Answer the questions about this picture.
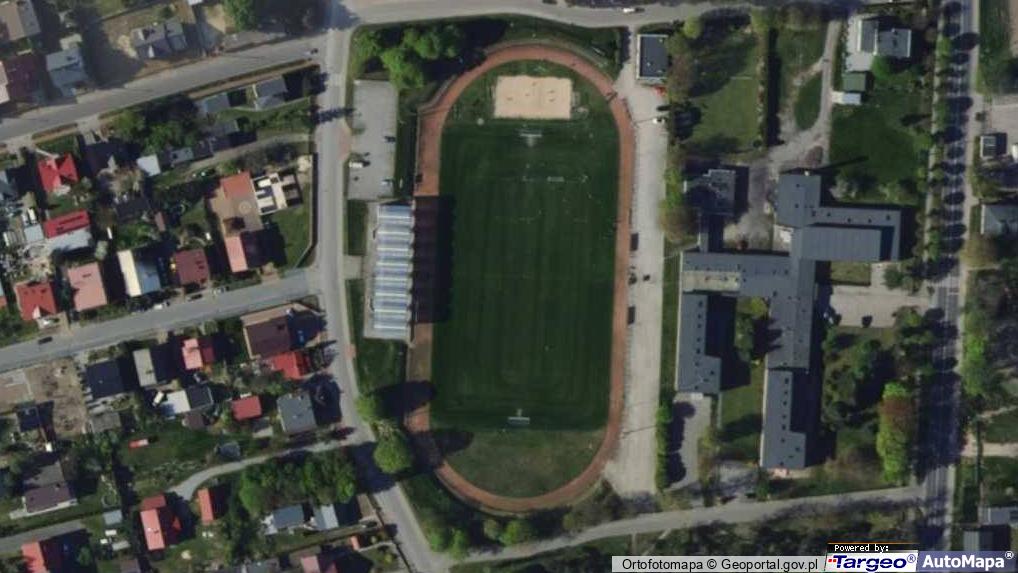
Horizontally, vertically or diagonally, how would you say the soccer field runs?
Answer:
vertically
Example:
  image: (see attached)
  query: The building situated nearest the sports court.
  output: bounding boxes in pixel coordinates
[636,34,669,81]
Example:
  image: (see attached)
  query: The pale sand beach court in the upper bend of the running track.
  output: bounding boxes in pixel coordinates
[494,75,572,118]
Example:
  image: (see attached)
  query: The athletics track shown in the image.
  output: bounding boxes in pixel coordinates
[404,44,634,511]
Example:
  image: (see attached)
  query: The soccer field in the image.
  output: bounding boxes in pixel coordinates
[428,60,621,497]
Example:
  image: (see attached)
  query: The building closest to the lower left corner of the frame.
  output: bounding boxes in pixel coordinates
[22,536,70,573]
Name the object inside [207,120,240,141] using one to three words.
shed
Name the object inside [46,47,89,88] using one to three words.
house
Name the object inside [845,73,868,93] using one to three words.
building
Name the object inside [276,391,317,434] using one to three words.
house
